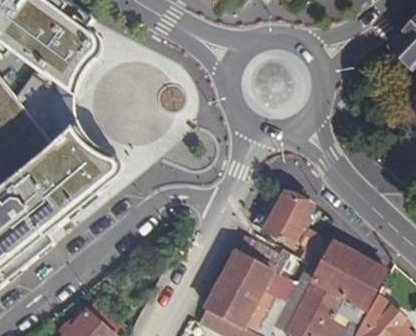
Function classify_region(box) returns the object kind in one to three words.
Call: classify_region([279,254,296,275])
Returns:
camper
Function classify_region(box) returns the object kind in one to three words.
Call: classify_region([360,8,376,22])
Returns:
car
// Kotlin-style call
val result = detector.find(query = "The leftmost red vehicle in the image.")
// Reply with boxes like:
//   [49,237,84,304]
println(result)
[160,288,172,305]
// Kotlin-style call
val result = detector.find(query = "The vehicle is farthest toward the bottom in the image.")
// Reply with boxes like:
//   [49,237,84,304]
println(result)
[19,315,36,330]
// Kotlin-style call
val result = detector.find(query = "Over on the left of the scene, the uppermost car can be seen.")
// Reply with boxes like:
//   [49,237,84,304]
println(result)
[112,199,130,215]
